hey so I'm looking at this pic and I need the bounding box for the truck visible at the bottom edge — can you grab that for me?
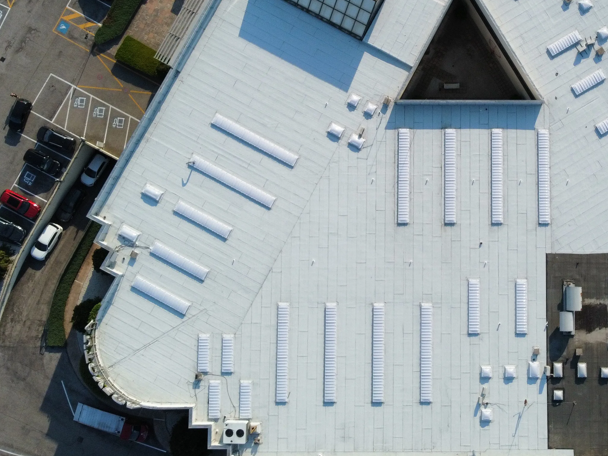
[73,396,158,435]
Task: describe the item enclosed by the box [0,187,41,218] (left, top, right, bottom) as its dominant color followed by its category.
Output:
red car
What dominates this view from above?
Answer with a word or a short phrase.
buildings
